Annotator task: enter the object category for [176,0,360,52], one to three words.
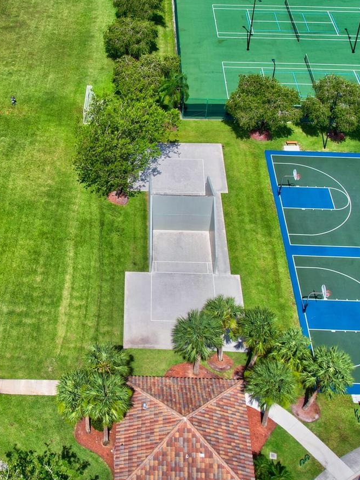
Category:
tennis court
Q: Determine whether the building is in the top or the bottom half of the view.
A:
bottom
